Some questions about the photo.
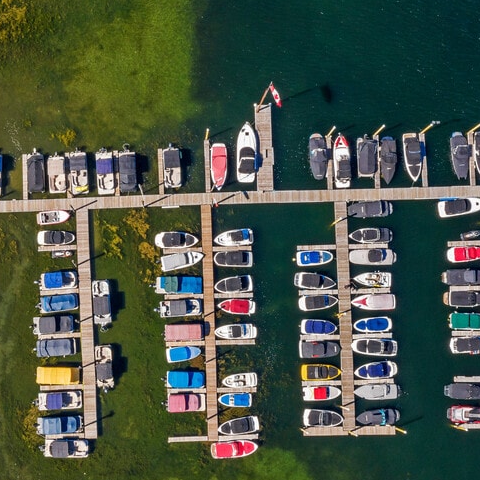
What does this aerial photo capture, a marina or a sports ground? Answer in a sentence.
The area seen from above is a marina.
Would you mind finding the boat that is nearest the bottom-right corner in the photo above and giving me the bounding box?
[443,405,480,424]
